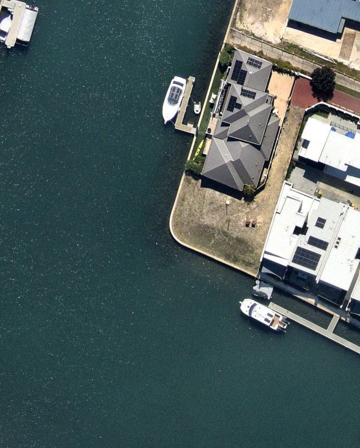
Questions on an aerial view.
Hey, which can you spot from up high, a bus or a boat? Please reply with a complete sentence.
This aerial view contains a boat.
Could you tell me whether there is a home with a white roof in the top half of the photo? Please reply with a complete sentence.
Yes, there is a home with a white roof in the top half of the photo.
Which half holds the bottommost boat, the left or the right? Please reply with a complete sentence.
You can find the bottommost boat on the right side of the picture.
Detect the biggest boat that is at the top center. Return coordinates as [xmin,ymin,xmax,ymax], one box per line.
[165,74,189,125]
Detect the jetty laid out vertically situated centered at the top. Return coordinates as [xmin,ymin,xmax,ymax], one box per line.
[175,76,198,135]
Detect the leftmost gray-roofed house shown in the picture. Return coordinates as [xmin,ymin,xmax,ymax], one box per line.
[202,50,281,191]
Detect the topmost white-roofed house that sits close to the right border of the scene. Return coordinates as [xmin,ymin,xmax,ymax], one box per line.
[298,117,360,187]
